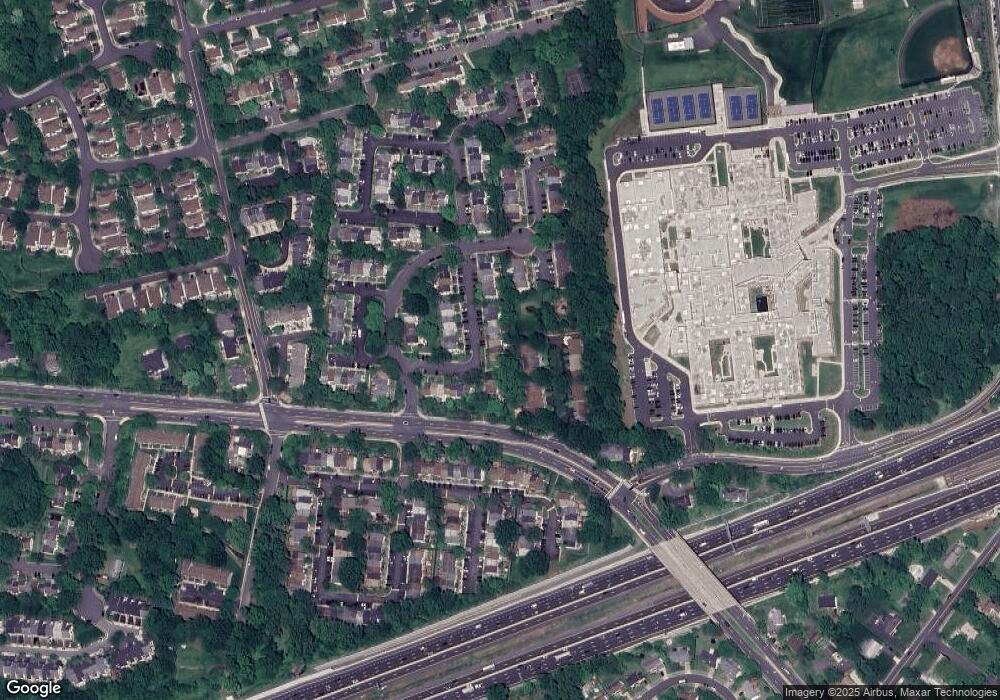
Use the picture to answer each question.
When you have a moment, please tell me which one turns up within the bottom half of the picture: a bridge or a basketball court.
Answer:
bridge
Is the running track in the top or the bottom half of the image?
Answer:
top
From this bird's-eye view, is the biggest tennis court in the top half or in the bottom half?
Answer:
top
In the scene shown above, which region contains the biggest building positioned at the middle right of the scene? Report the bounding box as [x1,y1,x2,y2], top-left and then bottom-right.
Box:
[624,148,842,404]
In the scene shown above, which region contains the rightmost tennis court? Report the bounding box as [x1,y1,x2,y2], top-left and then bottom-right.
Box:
[724,86,761,128]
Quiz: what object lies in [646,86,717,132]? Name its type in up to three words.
tennis court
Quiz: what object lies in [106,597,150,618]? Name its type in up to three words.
building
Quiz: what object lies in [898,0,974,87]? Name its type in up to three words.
baseball field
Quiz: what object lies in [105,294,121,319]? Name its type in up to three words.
house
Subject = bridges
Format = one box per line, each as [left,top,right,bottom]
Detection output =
[648,527,737,618]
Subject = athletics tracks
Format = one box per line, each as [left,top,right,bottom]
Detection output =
[636,0,715,32]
